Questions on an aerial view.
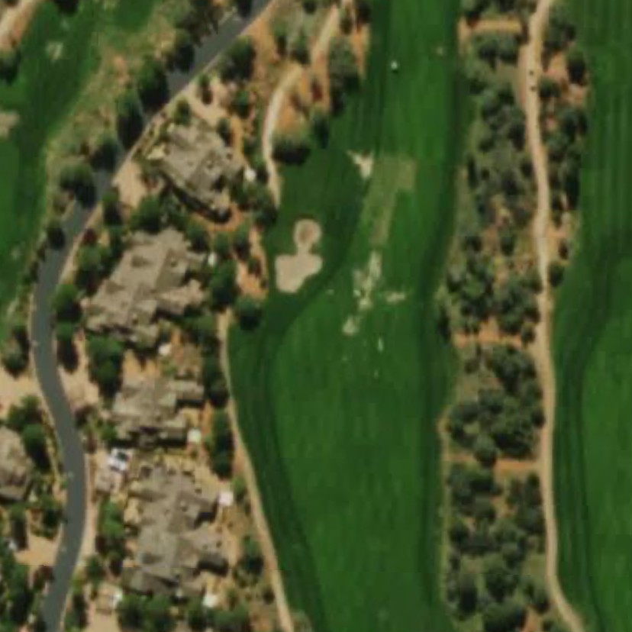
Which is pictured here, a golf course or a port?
golf course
